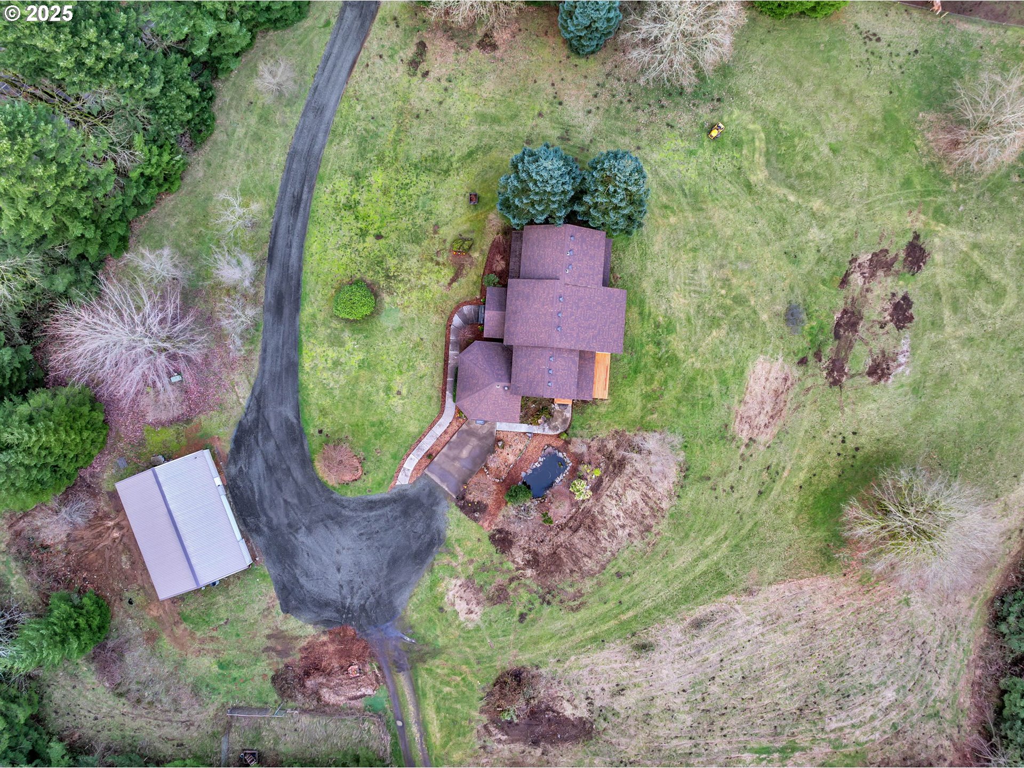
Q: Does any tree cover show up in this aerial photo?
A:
Yes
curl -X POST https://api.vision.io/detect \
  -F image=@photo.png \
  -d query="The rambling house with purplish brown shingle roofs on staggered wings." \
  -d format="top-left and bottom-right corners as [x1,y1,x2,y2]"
[455,223,627,425]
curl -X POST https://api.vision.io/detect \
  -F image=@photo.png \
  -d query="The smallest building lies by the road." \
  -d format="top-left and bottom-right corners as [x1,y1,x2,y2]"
[115,450,251,600]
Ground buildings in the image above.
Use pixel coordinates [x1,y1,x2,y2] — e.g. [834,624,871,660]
[455,223,627,425]
[115,450,251,600]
